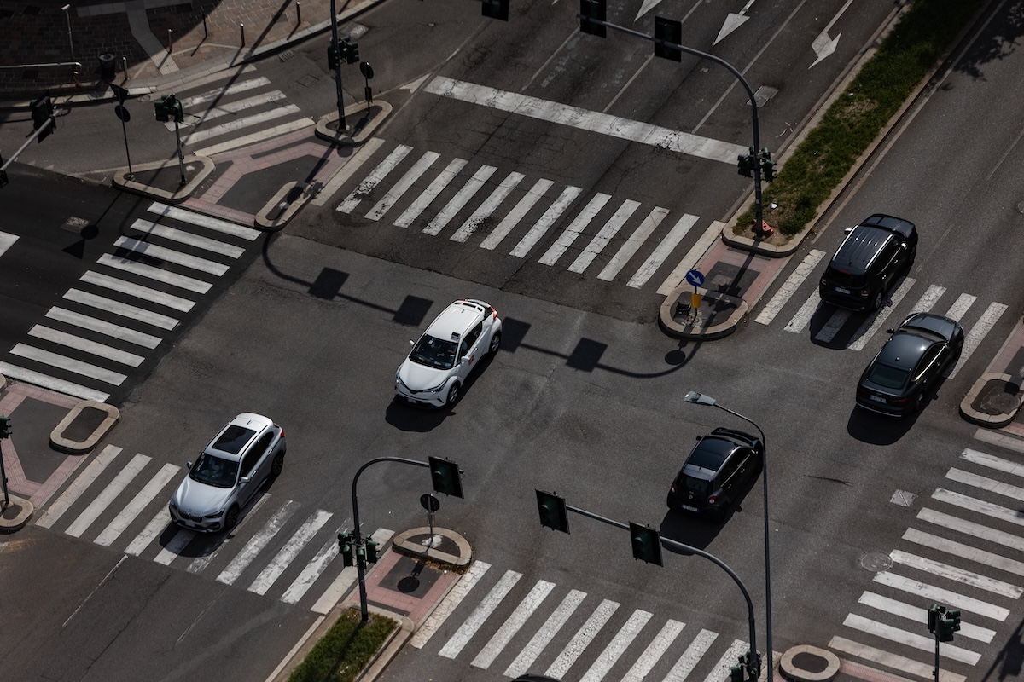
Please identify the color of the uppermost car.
black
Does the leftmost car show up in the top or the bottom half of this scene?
bottom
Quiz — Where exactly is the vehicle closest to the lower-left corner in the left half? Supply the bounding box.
[164,412,284,530]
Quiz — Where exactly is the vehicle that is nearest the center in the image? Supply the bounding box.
[392,300,501,405]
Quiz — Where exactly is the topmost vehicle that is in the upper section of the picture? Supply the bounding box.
[813,210,917,307]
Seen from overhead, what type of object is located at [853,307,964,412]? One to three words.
car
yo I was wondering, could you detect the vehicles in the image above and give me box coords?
[665,423,762,517]
[813,210,917,307]
[392,300,501,405]
[853,307,964,412]
[164,412,284,530]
